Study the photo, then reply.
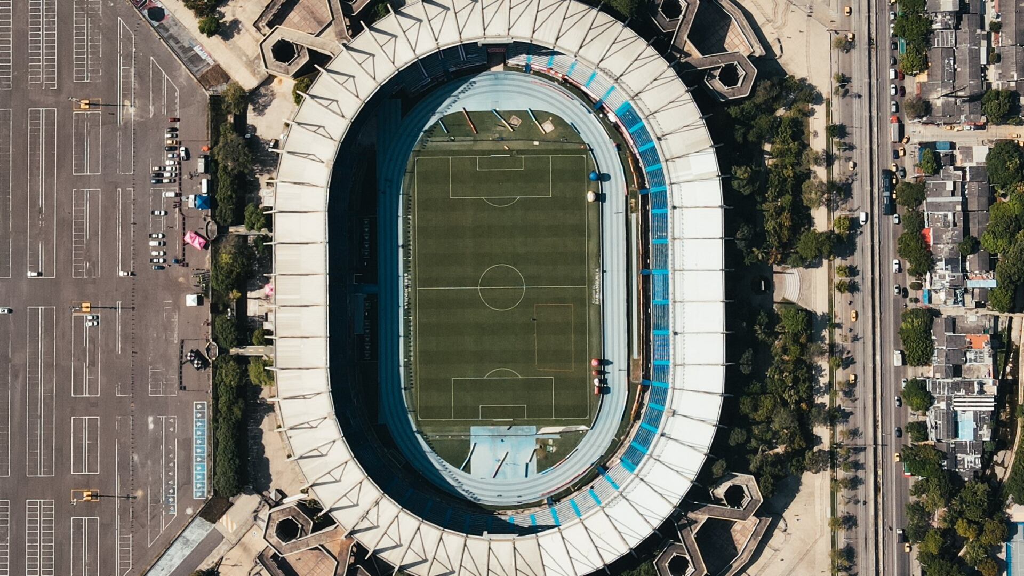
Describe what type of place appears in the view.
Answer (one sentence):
This looks like a sports ground.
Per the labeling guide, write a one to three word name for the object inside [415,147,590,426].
soccer field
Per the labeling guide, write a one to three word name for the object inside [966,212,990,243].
house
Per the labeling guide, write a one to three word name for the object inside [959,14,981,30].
house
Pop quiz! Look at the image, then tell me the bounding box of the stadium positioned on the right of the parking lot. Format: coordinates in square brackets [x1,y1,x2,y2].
[262,0,735,576]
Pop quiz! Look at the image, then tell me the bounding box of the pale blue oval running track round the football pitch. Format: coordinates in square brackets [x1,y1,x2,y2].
[377,71,642,505]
